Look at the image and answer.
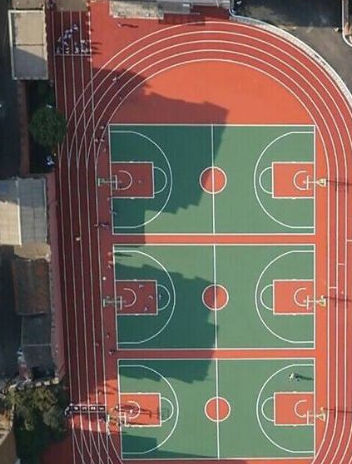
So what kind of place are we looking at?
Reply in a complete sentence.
The picture captures a sports ground.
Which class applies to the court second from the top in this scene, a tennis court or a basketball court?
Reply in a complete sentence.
I'd say the court second from the top is a basketball court.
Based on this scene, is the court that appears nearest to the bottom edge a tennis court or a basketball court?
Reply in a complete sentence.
It looks like the court that appears nearest to the bottom edge is a basketball court.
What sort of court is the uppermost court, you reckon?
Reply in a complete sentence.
Looking closely, the uppermost court is a basketball court.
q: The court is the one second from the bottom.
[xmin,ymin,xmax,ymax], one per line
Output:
[113,243,315,350]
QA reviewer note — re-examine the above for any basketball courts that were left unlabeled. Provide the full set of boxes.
[113,243,315,350]
[118,359,315,459]
[108,123,316,236]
